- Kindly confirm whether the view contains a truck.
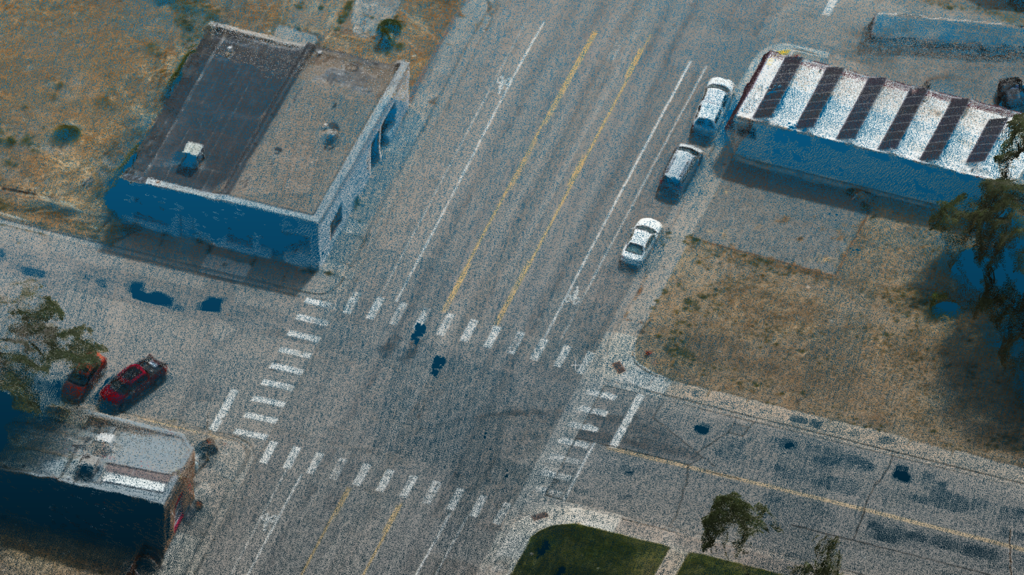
Yes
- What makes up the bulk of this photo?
paved ground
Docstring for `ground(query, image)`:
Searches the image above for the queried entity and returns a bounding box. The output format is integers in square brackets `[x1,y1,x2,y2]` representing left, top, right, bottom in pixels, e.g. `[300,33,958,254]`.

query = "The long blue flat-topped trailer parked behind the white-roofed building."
[873,14,1024,65]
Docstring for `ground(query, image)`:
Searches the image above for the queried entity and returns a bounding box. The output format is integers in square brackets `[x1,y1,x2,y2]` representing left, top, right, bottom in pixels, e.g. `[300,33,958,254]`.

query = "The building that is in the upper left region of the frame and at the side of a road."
[121,21,408,274]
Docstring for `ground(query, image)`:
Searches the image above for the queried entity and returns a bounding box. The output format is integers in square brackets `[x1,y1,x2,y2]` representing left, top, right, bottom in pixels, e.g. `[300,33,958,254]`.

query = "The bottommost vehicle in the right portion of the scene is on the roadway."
[619,218,663,270]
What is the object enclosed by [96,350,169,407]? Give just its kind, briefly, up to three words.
truck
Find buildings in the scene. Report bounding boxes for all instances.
[729,48,1024,224]
[121,21,408,274]
[0,392,198,566]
